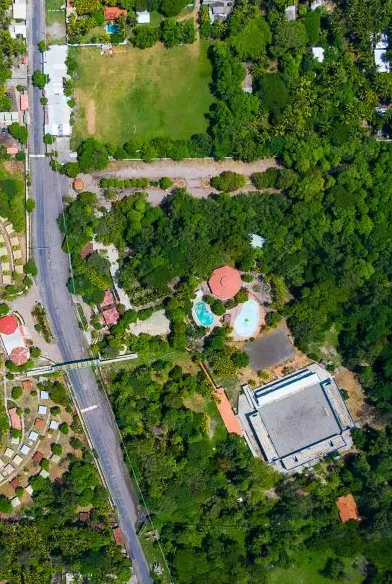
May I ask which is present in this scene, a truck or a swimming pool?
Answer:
swimming pool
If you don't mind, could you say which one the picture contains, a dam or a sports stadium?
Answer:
sports stadium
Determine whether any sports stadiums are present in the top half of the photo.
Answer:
No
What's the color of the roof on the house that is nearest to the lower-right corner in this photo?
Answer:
orange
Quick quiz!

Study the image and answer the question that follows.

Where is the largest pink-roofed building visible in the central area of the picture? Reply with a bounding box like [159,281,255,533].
[208,265,242,299]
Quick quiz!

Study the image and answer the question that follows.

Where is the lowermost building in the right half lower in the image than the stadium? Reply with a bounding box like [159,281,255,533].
[335,493,360,523]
